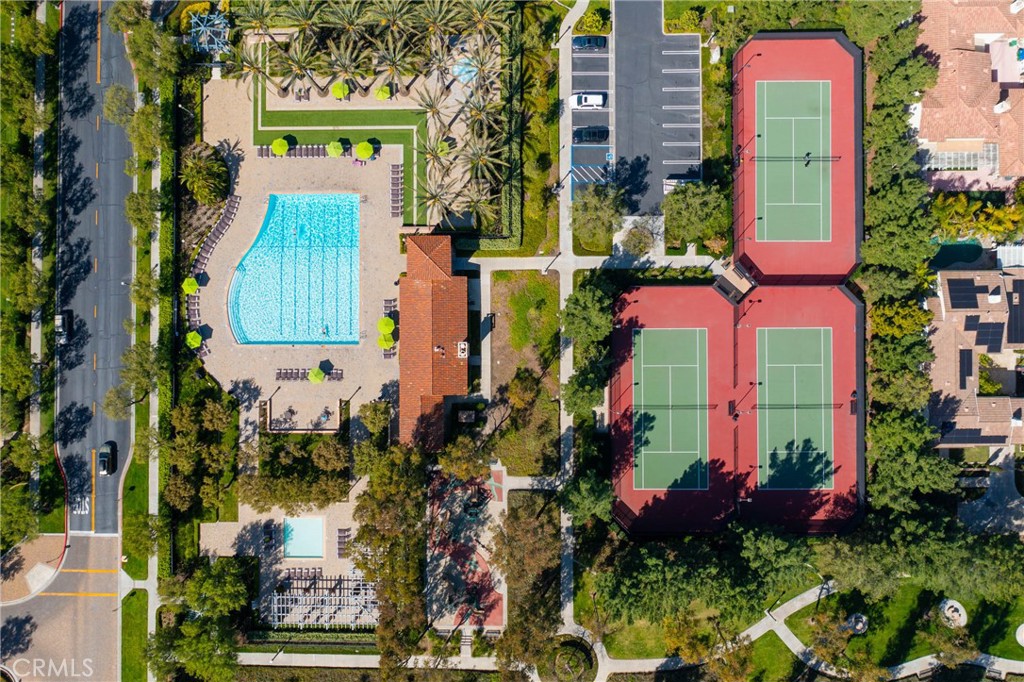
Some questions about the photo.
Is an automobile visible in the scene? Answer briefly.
Yes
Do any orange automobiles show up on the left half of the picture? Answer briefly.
No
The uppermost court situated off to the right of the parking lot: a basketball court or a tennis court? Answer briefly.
tennis court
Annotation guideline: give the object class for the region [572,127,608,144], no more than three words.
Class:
car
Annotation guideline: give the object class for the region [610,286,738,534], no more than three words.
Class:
tennis court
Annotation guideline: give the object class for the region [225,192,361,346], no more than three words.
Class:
swimming pool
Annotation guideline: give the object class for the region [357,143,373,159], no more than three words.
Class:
umbrella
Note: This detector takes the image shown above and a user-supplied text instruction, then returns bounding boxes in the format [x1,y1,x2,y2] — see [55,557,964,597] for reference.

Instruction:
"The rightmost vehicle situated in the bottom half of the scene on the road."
[96,443,115,476]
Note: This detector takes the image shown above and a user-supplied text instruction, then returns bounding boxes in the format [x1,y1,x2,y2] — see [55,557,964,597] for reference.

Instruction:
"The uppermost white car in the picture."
[568,93,603,111]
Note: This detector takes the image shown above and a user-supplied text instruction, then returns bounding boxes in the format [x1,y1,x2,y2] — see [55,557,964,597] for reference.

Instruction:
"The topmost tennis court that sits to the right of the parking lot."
[733,39,856,283]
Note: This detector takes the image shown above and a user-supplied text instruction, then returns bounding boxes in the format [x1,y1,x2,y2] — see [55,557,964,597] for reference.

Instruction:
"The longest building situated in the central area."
[399,235,467,451]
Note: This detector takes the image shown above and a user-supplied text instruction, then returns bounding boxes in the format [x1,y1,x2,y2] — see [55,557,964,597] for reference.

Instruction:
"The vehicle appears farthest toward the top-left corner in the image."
[52,312,72,344]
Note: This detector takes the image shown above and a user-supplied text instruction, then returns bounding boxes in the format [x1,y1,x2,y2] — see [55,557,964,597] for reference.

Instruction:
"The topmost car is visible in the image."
[573,35,607,52]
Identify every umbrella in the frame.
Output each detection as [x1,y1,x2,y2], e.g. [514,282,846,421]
[183,278,199,295]
[375,85,391,101]
[309,368,326,384]
[435,142,452,157]
[273,139,289,155]
[328,142,344,158]
[186,330,203,347]
[378,317,394,333]
[357,143,373,159]
[378,334,395,349]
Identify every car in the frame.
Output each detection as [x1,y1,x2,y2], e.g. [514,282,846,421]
[568,93,603,111]
[572,127,608,144]
[573,35,607,52]
[52,312,72,344]
[96,443,115,476]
